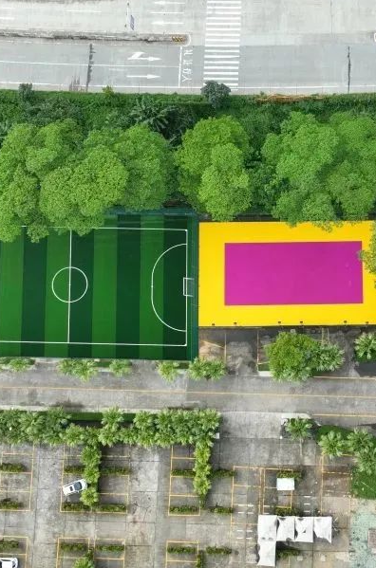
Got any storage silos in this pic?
No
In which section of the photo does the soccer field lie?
left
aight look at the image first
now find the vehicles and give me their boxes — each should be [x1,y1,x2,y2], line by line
[0,559,19,568]
[58,479,86,498]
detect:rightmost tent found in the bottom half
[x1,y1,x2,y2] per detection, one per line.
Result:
[313,514,332,544]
